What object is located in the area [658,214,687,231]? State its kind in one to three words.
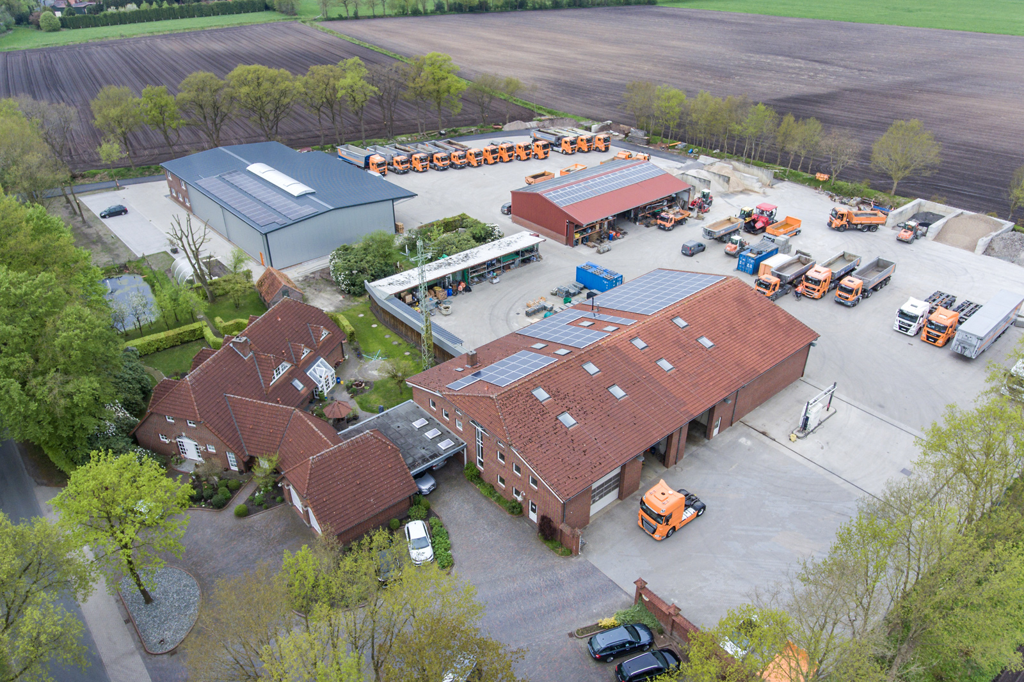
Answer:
vehicle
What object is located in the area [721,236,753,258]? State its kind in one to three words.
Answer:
work vehicle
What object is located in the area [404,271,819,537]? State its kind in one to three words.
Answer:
building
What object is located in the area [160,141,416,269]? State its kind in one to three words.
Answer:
building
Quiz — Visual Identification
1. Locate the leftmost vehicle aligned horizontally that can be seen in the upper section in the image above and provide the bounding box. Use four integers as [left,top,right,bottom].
[99,203,128,216]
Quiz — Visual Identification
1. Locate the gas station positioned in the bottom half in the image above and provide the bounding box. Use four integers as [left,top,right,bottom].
[796,386,840,442]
